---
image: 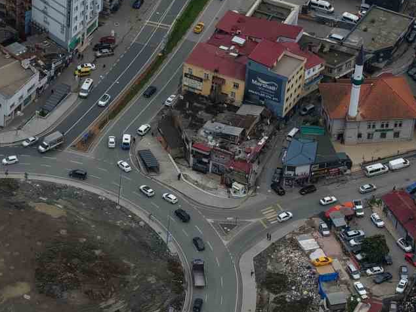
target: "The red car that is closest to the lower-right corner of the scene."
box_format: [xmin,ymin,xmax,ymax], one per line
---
[404,255,416,267]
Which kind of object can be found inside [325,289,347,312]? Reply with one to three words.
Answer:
shed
